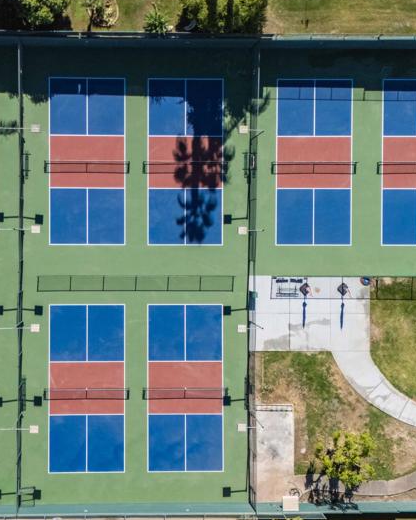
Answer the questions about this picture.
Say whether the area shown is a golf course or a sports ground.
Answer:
sports ground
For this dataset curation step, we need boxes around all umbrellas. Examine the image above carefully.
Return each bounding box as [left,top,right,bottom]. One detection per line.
[337,285,353,296]
[299,284,314,296]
